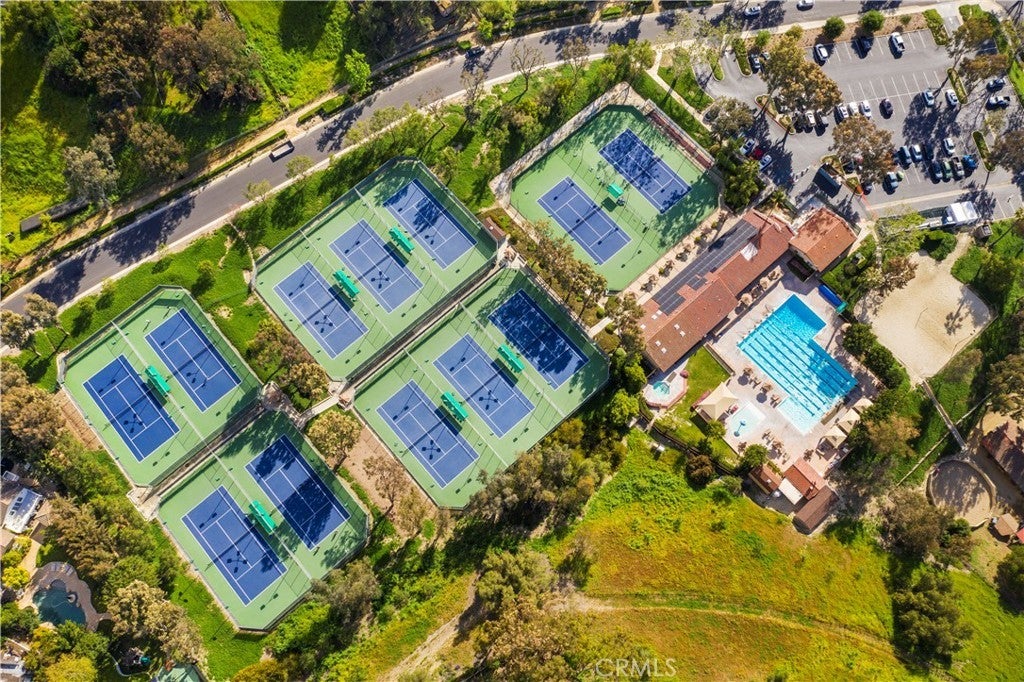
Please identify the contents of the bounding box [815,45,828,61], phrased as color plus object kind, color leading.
white vehicle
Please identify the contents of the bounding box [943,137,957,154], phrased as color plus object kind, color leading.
white car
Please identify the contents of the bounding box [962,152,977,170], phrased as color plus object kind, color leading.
blue car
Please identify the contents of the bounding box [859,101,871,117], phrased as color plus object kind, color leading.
white vehicle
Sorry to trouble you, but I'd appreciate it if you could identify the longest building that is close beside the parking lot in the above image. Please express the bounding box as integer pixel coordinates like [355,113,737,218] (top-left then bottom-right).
[622,206,795,370]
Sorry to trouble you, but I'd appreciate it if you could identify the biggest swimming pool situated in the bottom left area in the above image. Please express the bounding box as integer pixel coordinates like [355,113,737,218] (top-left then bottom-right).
[31,577,88,630]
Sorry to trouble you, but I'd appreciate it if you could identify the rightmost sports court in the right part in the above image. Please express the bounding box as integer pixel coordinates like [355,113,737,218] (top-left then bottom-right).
[855,229,995,389]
